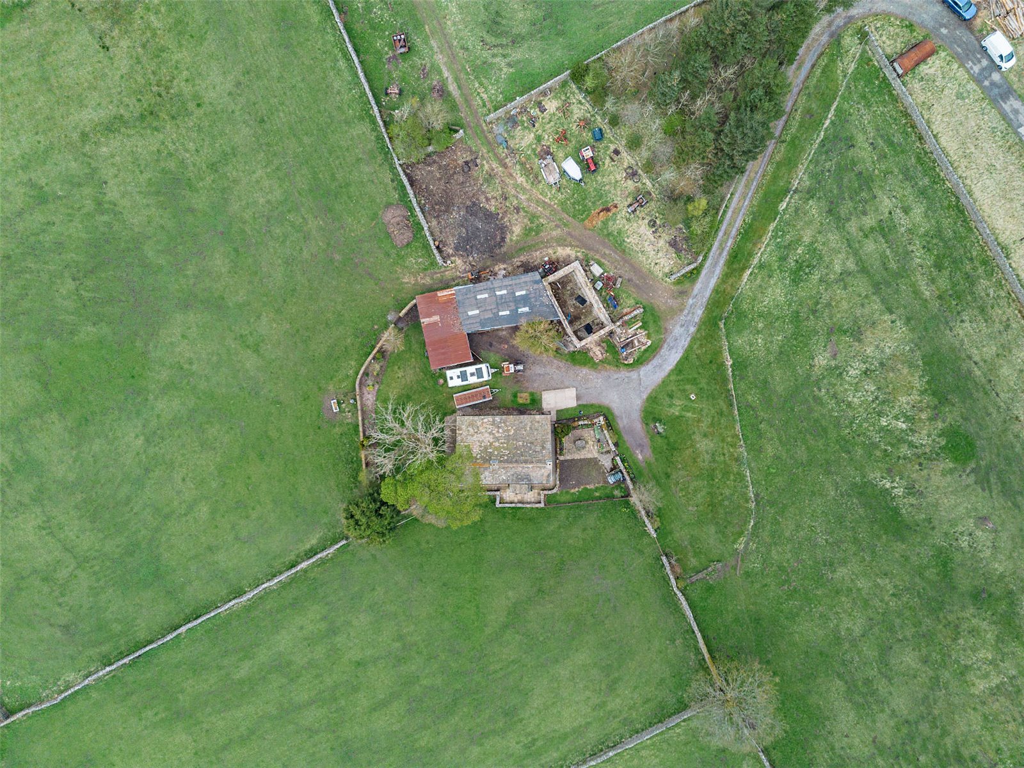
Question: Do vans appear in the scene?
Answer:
Yes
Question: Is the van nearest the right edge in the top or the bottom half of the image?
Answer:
top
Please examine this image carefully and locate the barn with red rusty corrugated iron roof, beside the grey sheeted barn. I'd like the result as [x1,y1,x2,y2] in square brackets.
[416,288,474,369]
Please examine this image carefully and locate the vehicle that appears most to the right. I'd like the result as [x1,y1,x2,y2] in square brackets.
[981,30,1014,71]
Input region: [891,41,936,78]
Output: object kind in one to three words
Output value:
trailer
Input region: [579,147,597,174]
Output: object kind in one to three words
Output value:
work vehicle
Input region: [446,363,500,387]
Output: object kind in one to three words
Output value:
camper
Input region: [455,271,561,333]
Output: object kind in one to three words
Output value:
barn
